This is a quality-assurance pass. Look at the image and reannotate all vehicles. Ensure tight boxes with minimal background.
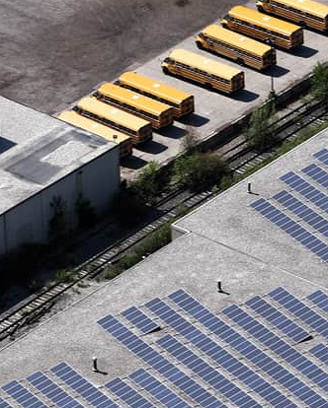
[69,99,150,150]
[194,25,277,74]
[87,86,170,135]
[161,49,245,98]
[217,8,303,54]
[252,0,328,37]
[112,73,195,122]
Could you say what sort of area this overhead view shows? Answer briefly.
industrial area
